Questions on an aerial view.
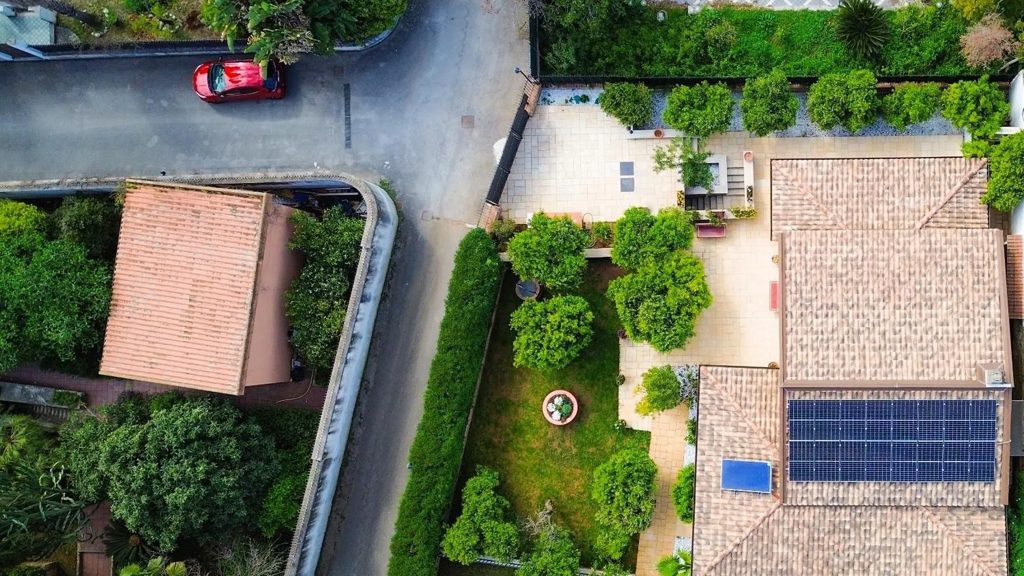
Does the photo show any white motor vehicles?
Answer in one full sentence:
No, there isn't any white motor vehicle down there.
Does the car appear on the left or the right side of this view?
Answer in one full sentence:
The car sits on the left side.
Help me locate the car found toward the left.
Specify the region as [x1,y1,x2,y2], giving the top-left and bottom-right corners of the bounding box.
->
[193,52,288,106]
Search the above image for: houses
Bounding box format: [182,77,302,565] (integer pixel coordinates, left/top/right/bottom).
[98,178,306,397]
[684,156,1013,576]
